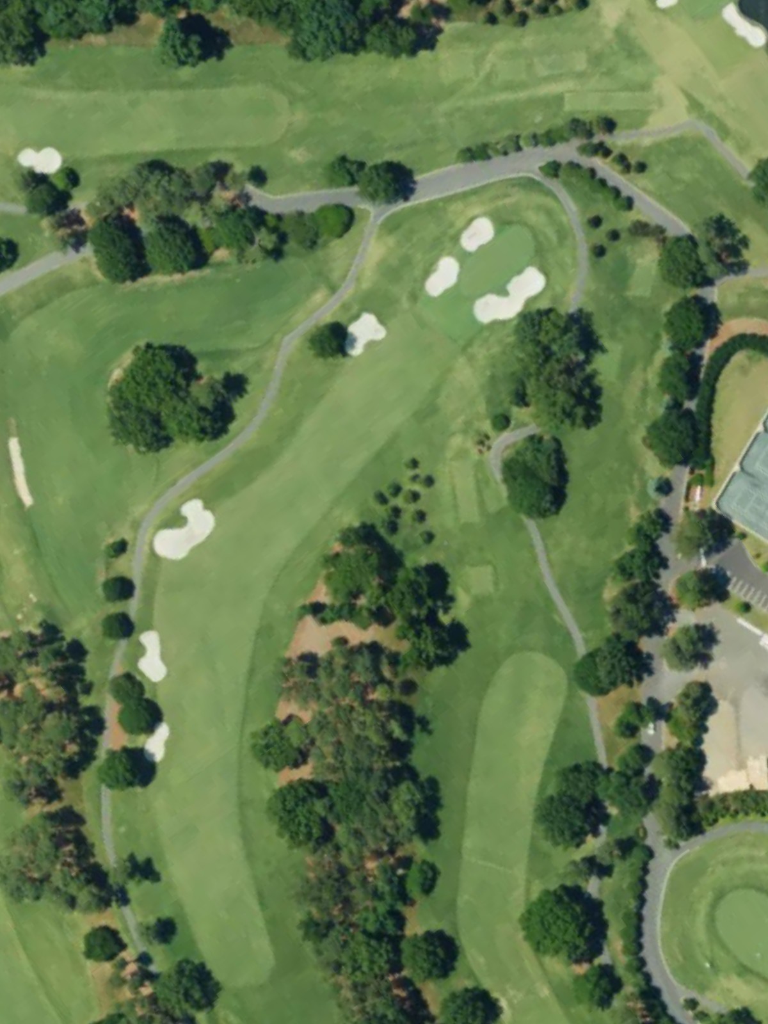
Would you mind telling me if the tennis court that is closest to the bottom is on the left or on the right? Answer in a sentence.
The tennis court that is closest to the bottom is on the right side of the image.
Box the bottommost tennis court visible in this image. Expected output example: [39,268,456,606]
[718,470,768,531]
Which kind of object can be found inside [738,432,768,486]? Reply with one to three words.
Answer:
tennis court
